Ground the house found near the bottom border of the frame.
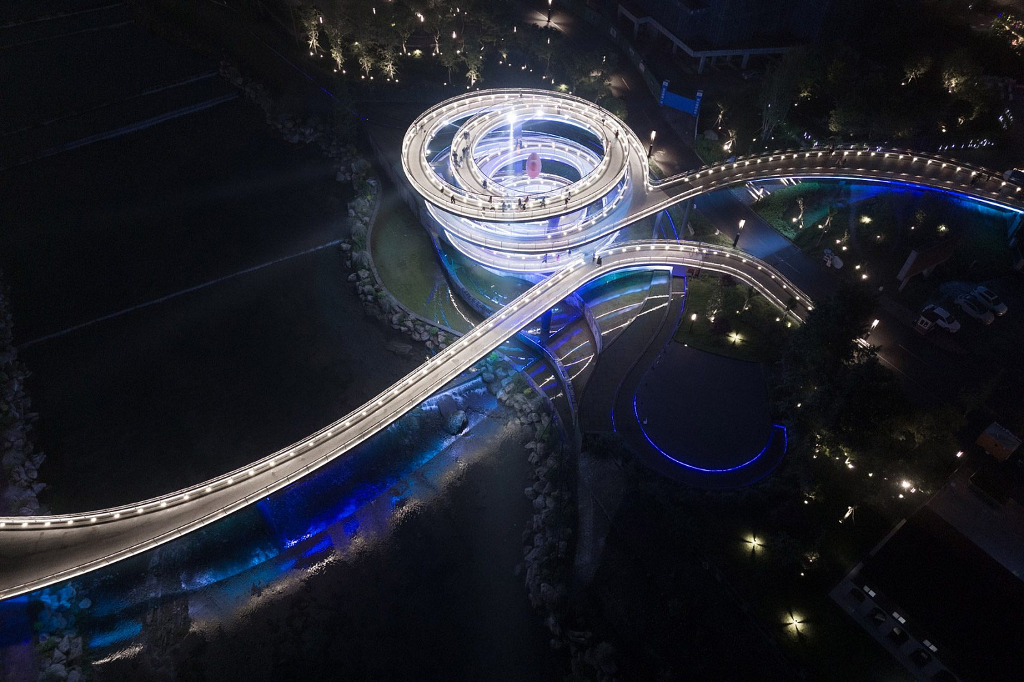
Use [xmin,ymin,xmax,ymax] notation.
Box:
[827,490,1024,682]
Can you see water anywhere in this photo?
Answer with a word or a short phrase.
Yes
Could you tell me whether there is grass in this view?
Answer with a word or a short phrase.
Yes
